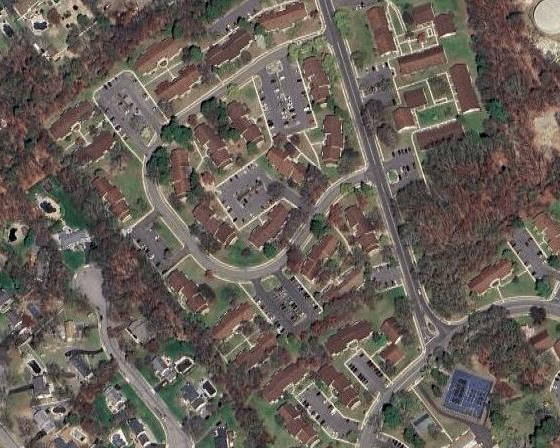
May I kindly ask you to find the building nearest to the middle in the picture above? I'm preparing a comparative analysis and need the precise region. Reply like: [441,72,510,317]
[249,205,293,251]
